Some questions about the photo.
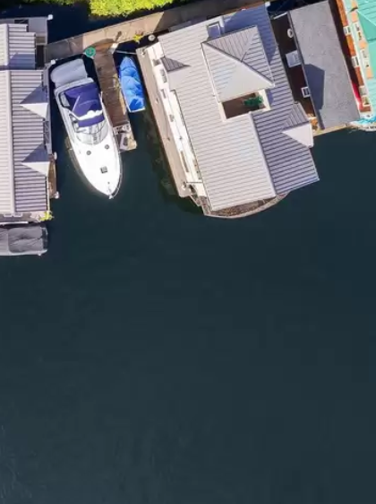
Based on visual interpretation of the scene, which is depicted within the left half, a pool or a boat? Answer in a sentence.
It is a boat that can be seen within the left half.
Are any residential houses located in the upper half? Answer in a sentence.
Yes, you'll find a residential house in the upper half.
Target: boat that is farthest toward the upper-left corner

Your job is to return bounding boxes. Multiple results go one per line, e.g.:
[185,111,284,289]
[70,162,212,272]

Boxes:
[51,56,89,84]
